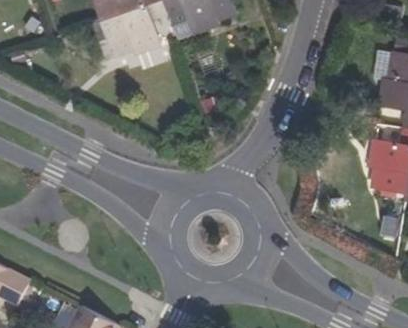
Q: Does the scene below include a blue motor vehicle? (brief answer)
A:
Yes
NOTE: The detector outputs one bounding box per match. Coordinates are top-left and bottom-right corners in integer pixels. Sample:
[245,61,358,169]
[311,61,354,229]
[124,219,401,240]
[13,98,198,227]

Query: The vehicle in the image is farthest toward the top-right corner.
[306,39,320,64]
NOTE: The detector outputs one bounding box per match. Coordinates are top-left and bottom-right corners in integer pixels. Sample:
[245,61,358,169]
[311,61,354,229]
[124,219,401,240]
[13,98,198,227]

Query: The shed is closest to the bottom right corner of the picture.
[380,218,398,242]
